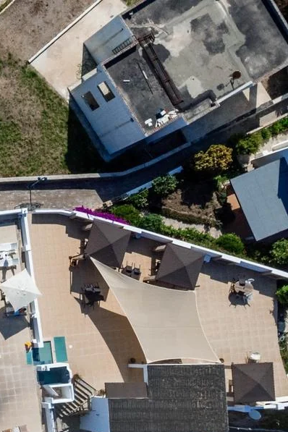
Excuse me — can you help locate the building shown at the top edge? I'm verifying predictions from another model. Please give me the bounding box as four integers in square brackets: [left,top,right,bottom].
[63,0,288,164]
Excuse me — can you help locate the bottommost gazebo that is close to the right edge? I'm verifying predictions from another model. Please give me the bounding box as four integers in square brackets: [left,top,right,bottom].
[224,362,276,404]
